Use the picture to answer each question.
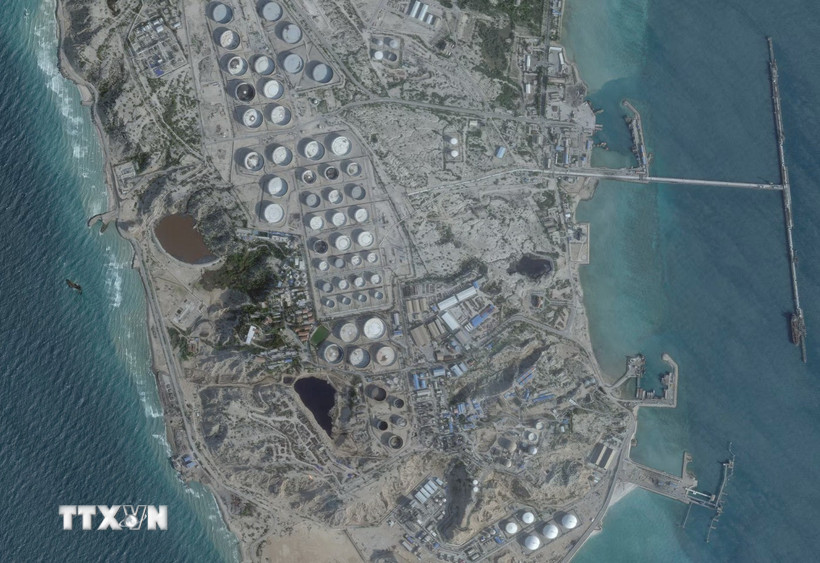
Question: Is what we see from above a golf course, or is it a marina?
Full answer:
This looks like a marina.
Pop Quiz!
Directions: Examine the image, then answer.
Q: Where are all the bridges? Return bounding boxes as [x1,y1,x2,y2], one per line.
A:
[644,177,782,190]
